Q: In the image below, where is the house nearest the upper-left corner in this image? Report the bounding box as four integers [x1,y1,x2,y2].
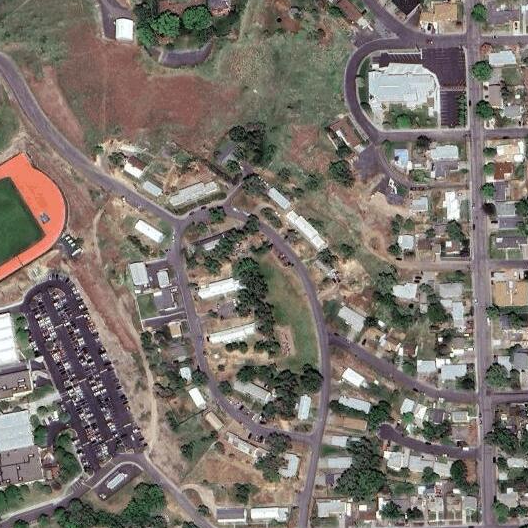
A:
[115,19,136,41]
